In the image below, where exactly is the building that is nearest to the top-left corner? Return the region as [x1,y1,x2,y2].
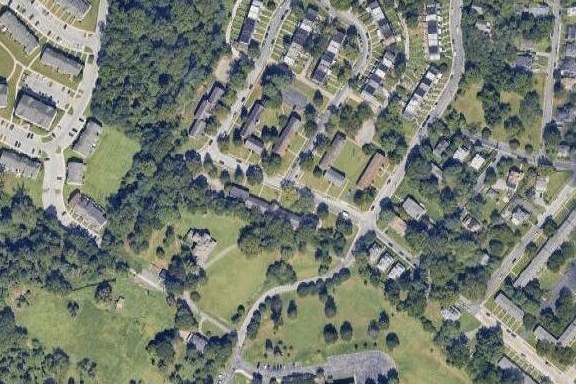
[0,10,41,56]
